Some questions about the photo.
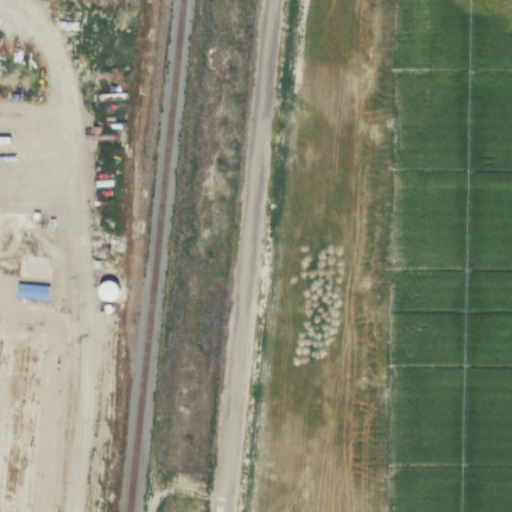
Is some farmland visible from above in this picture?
Yes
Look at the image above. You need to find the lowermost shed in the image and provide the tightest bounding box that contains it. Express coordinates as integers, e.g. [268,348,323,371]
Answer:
[17,283,49,300]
